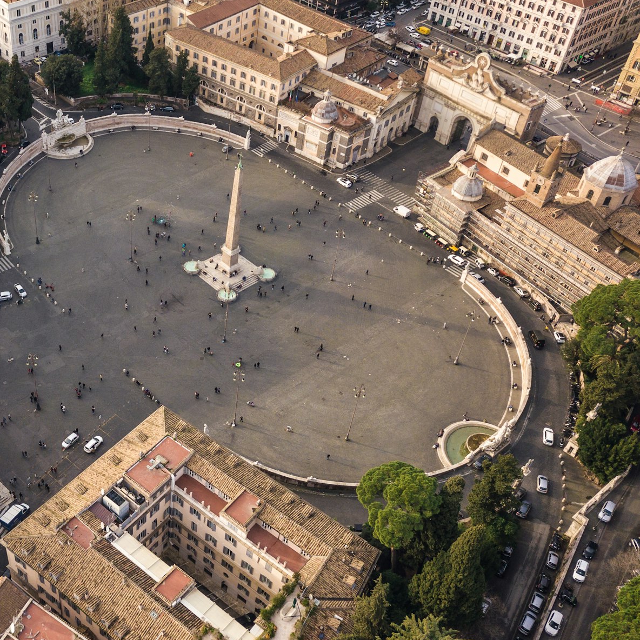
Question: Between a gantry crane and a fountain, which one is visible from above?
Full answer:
I can see a fountain in this picture.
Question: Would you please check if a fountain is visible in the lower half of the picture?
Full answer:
Yes, a fountain appears in the lower half of the picture.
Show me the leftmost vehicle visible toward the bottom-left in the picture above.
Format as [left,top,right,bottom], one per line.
[0,498,29,529]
